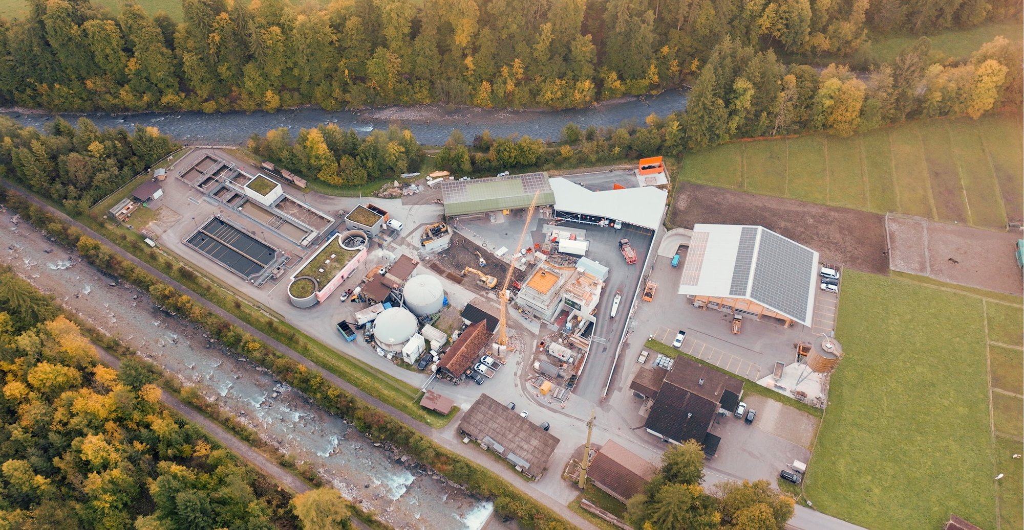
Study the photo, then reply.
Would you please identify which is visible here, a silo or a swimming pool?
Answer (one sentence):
The one in the frame is a silo.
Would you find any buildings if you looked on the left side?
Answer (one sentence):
Yes, I can see a building on the left side.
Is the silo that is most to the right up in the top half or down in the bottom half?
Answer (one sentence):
The silo that is most to the right sits in the bottom half of the picture.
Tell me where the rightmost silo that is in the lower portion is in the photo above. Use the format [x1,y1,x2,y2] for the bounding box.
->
[796,330,848,384]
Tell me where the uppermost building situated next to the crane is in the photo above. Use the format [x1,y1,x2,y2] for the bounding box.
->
[440,171,556,225]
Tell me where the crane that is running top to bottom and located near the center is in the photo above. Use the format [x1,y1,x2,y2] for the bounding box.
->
[489,190,539,358]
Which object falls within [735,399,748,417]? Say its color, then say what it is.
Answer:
white vehicle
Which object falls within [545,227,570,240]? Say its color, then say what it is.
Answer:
white vehicle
